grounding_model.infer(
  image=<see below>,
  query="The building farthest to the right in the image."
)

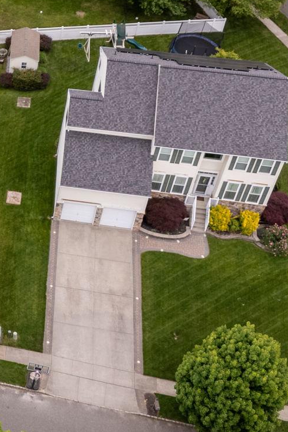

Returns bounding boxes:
[54,49,288,231]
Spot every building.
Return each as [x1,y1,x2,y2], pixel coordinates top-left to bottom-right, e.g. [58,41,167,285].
[9,26,43,73]
[54,49,288,231]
